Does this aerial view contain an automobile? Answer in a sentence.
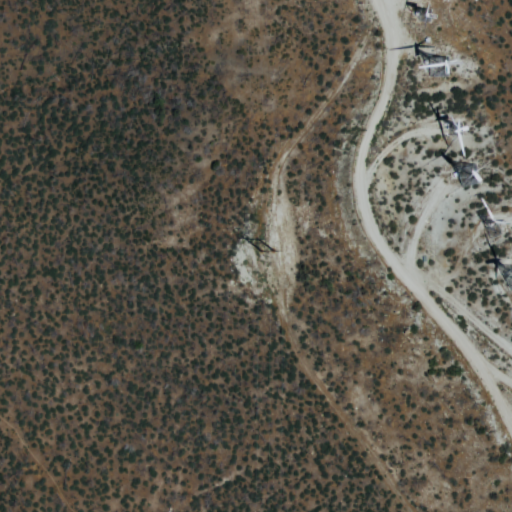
No, the photo shows no automobile.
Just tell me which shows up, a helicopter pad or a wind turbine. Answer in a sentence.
Of the two, only a wind turbine appears.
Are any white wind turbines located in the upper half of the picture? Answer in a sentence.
Yes, I can see a white wind turbine in the upper half of the picture.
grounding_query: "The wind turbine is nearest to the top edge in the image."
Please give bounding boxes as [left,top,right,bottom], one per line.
[414,0,437,24]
